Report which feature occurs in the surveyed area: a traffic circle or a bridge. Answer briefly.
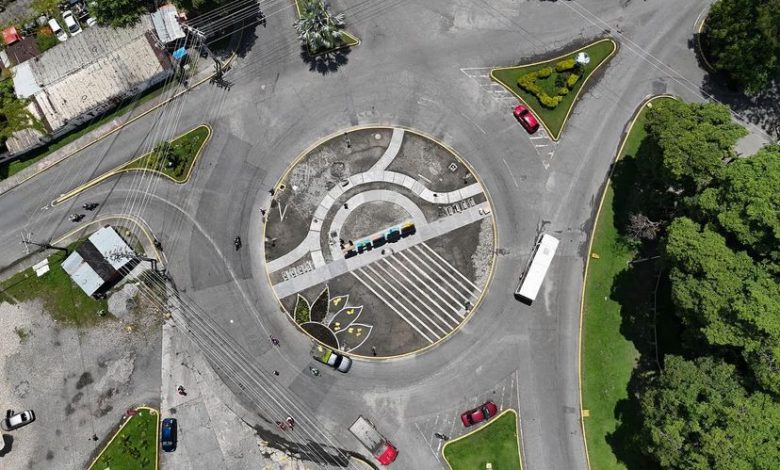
traffic circle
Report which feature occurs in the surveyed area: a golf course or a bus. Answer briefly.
bus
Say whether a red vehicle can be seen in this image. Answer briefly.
Yes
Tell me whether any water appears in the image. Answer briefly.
No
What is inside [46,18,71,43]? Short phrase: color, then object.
white car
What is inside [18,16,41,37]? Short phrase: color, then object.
gray car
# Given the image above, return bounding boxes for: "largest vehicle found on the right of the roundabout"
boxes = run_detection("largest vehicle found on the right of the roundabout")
[516,232,560,301]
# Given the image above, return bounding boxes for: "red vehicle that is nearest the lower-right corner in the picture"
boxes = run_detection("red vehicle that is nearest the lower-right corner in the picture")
[461,401,497,427]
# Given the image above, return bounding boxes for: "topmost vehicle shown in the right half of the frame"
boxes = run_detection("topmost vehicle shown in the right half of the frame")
[512,107,541,133]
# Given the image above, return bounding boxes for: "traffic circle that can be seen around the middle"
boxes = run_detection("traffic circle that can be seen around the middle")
[261,123,498,360]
